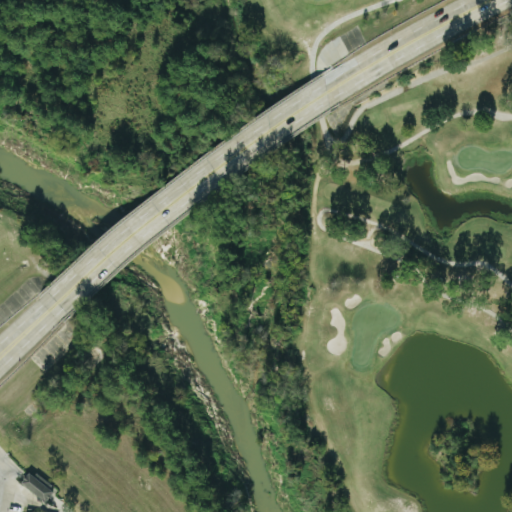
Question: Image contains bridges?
Yes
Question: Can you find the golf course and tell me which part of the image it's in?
bottom right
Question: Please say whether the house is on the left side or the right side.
left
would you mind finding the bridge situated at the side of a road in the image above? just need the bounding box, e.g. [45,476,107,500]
[42,77,338,317]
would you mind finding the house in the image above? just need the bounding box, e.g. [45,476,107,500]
[21,474,52,502]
